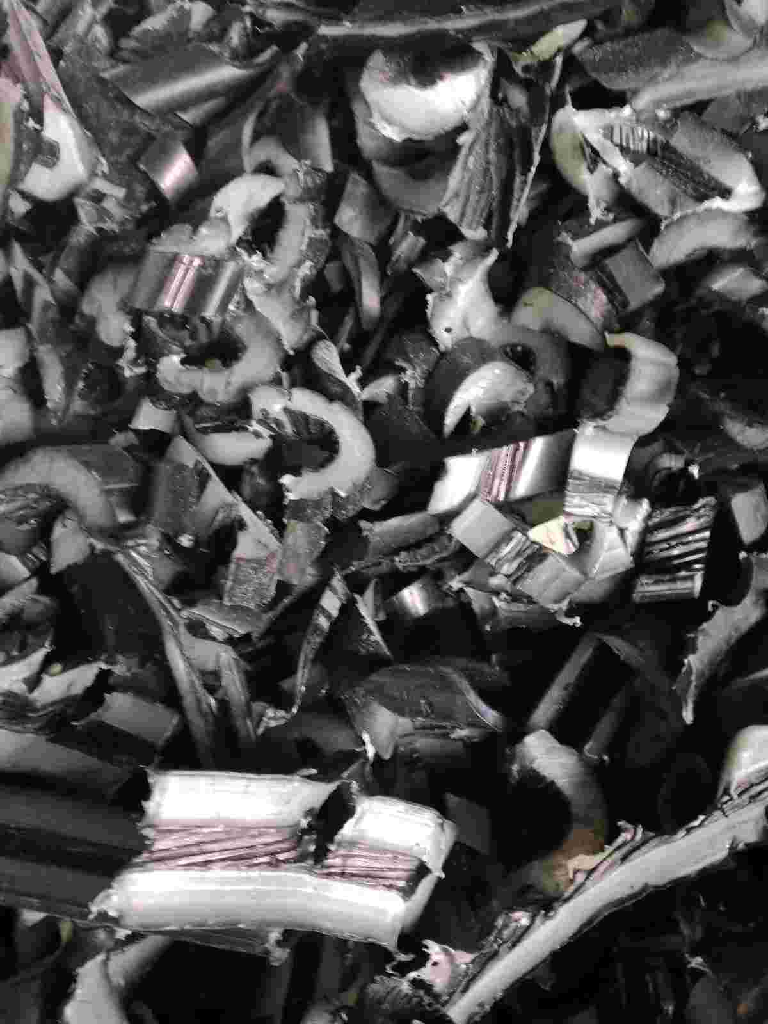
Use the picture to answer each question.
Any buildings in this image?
No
